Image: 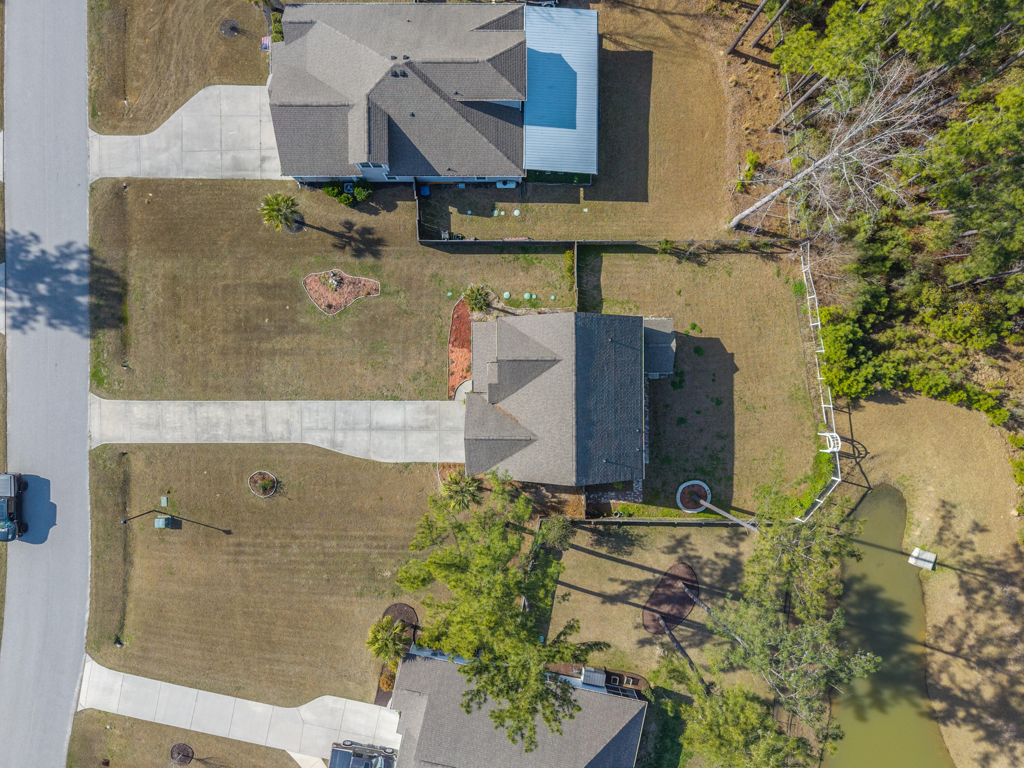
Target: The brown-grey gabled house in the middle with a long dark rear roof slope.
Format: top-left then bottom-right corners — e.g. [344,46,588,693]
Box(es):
[465,312,675,485]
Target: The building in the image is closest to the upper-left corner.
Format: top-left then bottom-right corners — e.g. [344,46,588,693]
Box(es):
[268,1,599,188]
